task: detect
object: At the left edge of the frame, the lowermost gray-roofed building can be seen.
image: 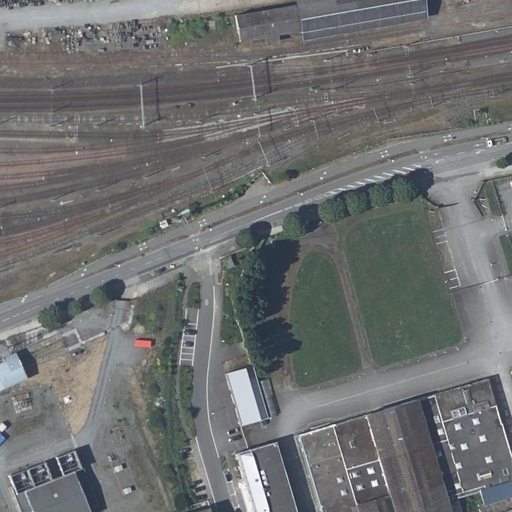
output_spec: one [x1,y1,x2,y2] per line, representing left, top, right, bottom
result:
[8,450,90,512]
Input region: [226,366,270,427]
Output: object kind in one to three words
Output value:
building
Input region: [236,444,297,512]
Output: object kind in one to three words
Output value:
building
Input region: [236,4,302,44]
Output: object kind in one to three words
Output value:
shed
